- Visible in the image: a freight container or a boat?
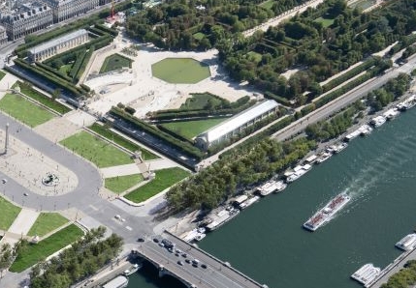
boat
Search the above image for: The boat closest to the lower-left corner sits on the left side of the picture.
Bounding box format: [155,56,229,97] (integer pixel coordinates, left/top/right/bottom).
[102,274,127,288]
